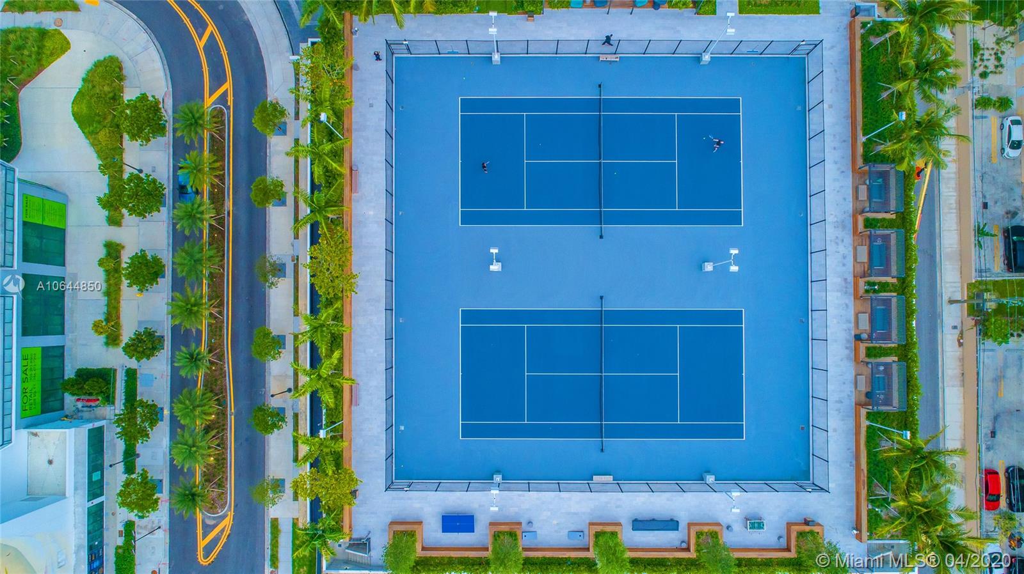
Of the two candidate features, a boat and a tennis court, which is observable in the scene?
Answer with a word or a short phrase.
tennis court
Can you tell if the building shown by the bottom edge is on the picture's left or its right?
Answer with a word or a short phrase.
left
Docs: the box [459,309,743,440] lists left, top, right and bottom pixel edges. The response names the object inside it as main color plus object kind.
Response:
blue tennis court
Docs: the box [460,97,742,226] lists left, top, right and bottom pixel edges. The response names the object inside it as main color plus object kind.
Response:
blue tennis court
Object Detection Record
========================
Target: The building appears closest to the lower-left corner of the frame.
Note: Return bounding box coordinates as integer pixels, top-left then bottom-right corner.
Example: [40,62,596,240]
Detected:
[0,420,106,574]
